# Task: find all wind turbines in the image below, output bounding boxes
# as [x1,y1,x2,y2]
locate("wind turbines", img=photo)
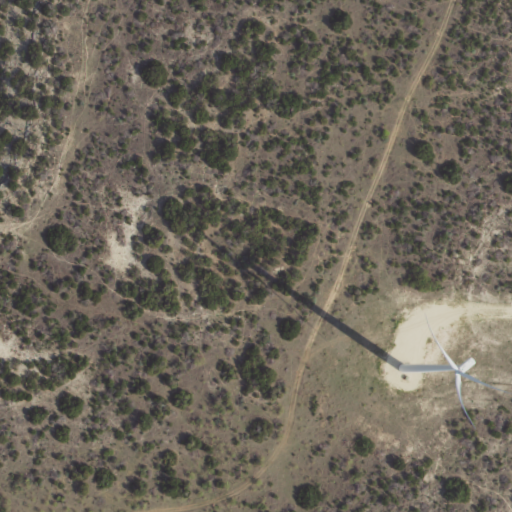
[396,312,512,429]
